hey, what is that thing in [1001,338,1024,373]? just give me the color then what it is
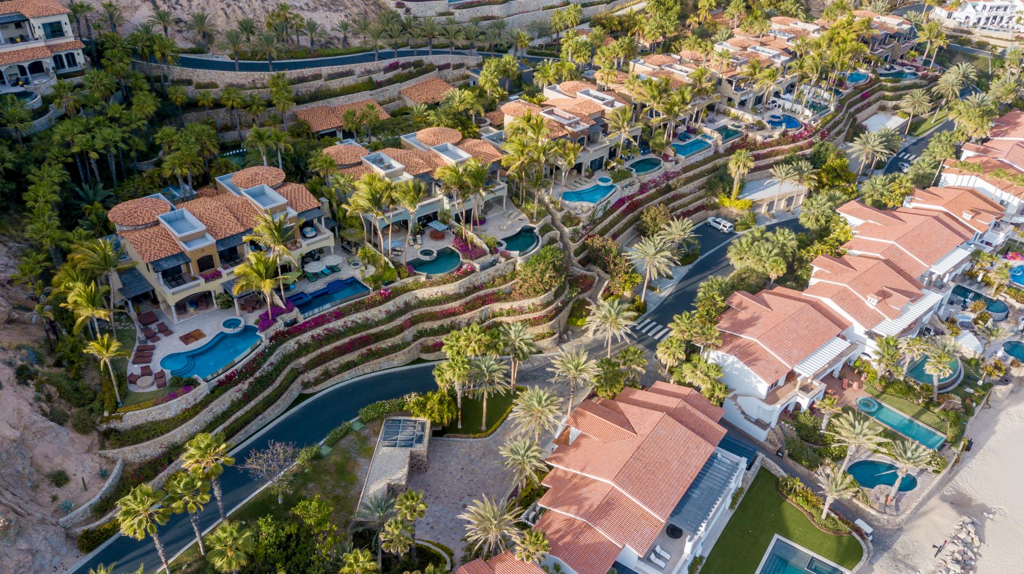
blue swimming pool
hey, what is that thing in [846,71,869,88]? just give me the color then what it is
blue swimming pool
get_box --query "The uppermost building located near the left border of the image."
[0,6,87,79]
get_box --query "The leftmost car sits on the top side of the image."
[707,215,737,232]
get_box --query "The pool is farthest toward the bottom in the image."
[747,533,852,574]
